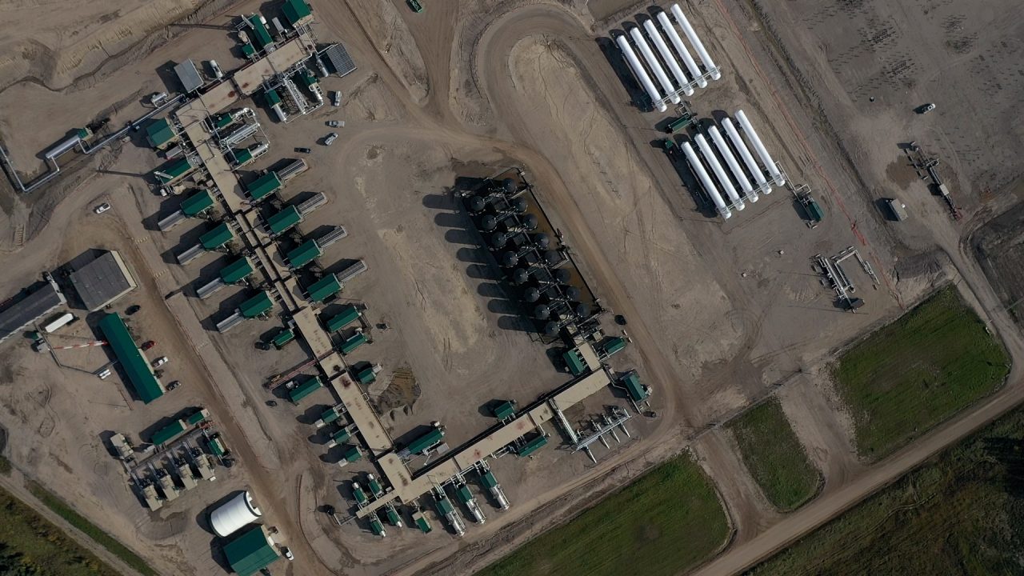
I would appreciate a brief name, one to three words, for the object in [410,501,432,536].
shed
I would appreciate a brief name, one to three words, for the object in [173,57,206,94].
shed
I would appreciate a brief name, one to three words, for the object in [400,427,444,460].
building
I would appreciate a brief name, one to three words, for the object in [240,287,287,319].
building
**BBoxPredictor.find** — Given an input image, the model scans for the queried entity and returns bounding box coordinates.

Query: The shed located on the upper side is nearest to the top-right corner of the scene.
[796,192,824,226]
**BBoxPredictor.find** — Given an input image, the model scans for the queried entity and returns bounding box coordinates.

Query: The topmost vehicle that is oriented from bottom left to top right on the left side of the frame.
[323,132,338,146]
